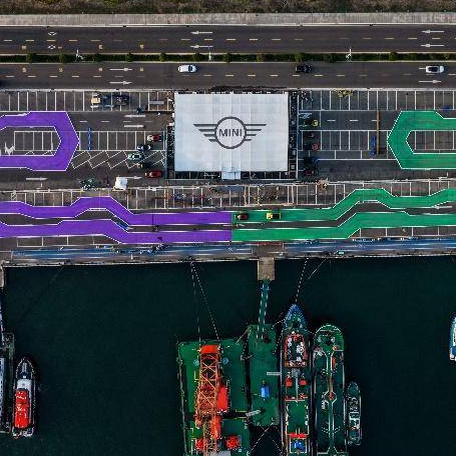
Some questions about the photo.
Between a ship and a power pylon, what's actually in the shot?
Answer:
ship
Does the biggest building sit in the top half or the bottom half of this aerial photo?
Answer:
top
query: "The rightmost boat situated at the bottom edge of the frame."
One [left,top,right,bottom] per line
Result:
[347,381,362,443]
